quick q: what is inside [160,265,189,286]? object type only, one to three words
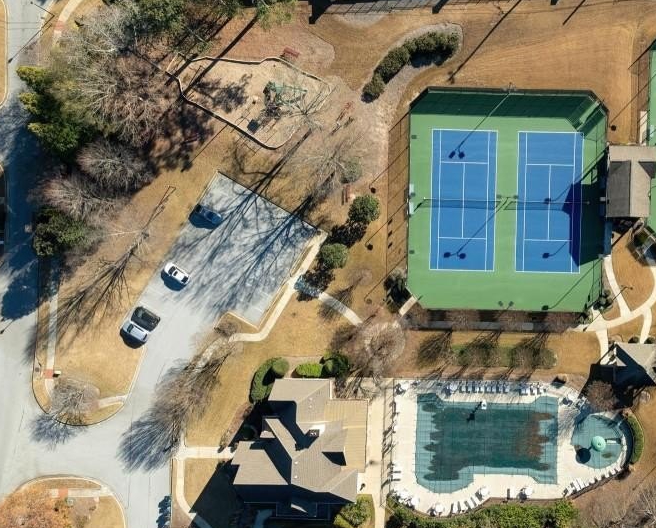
car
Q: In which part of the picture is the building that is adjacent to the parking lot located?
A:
bottom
